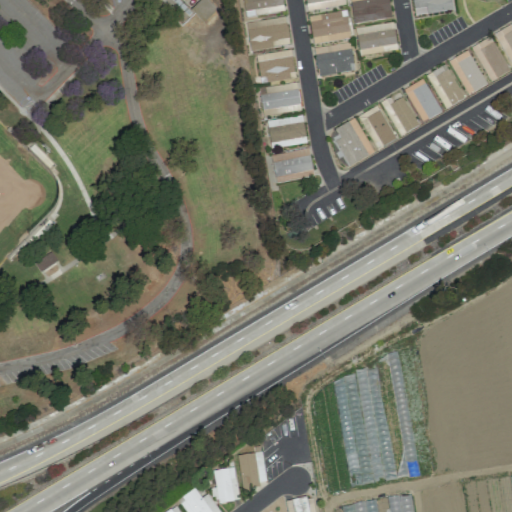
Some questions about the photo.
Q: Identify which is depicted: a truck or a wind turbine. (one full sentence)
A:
I can see a truck in this picture.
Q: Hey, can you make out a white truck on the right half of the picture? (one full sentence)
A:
Yes, the scene does show a white truck on the right half of the picture.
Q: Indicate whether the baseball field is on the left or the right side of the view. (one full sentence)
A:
It is on the left.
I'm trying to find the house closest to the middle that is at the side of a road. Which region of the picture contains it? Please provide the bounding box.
[272,148,314,182]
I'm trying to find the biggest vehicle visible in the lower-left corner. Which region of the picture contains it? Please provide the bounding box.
[28,436,59,454]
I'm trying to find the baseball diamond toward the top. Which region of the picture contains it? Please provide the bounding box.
[0,122,59,261]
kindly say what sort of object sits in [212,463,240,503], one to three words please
house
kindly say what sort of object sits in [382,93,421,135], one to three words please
house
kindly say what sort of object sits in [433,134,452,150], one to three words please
camper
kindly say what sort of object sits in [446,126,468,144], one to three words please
camper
